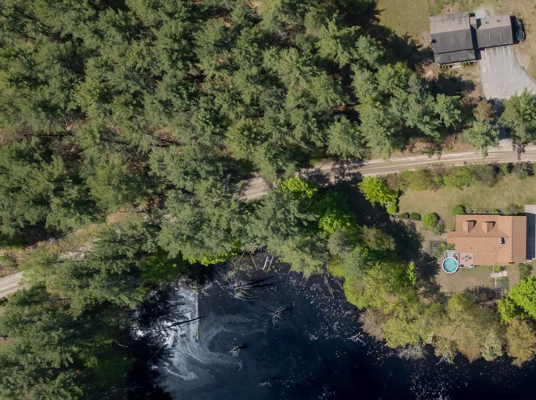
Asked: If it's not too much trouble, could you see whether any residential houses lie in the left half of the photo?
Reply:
No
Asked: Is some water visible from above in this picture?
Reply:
Yes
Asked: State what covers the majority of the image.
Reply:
trees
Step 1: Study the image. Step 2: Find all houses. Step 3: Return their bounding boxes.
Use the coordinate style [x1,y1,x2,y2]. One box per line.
[447,214,527,265]
[429,15,515,71]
